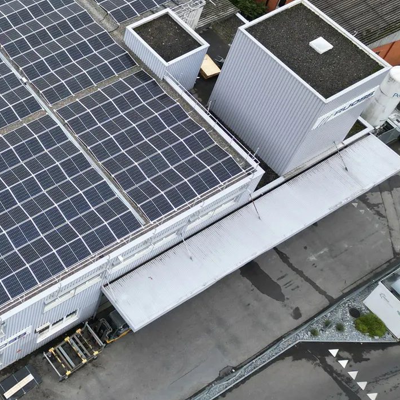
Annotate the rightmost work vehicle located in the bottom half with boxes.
[93,305,127,346]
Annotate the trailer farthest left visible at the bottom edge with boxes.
[41,323,104,382]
